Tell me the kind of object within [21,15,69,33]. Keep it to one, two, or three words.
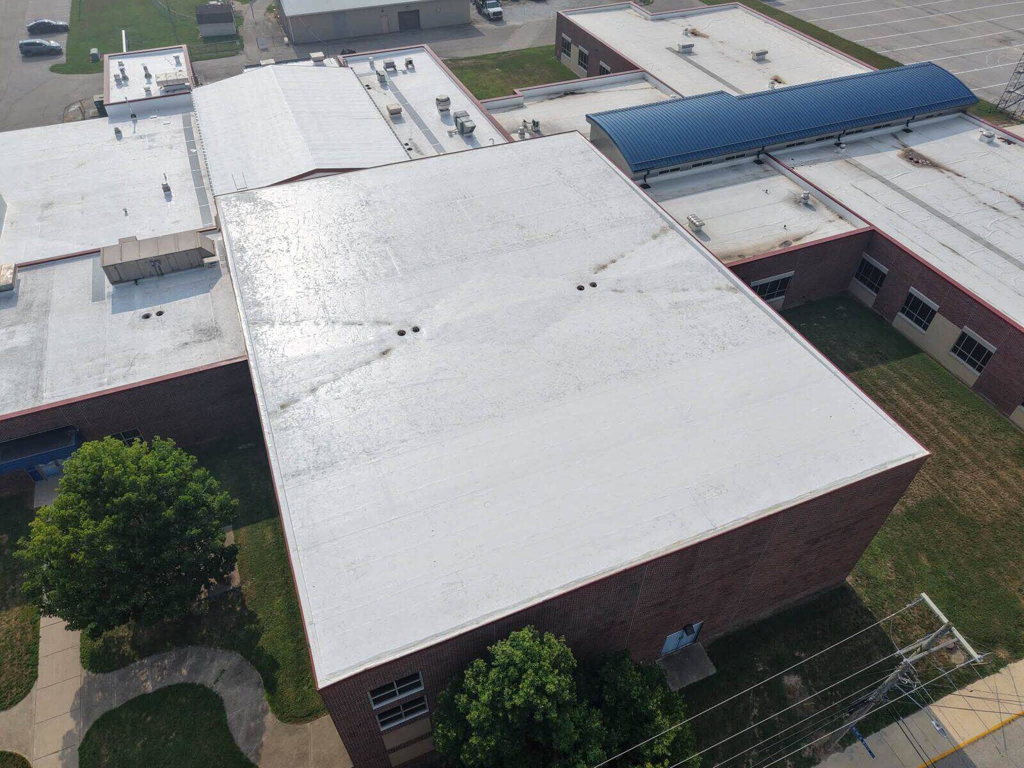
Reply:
car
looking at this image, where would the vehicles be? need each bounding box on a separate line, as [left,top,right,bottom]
[12,35,62,56]
[21,15,69,33]
[476,0,502,16]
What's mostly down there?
buildings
